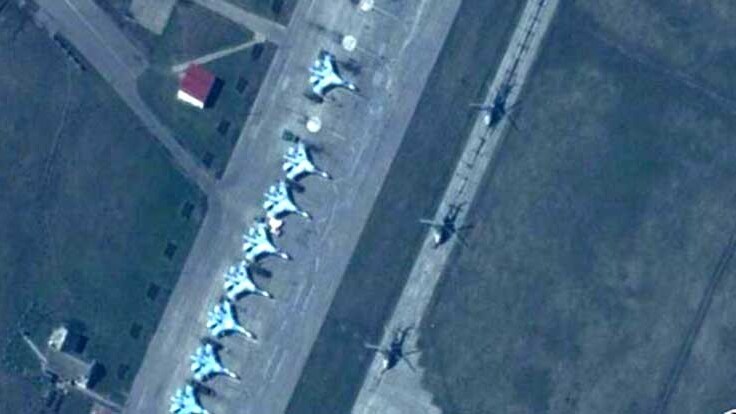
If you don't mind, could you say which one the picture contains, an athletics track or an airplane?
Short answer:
airplane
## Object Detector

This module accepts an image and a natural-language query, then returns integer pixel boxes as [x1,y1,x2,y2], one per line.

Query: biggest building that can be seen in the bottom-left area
[42,350,96,387]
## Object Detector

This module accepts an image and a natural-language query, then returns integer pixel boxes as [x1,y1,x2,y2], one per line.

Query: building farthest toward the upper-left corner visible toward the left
[180,67,217,103]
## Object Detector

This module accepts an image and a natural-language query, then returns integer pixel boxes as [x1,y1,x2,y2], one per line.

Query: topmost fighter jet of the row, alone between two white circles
[308,60,359,93]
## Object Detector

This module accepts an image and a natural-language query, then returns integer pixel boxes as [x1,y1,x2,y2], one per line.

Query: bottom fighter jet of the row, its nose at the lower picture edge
[165,385,216,414]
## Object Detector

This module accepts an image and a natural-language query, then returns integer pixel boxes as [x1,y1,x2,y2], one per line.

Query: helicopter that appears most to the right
[470,85,508,126]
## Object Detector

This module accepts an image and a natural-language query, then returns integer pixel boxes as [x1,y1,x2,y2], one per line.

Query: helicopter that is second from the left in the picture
[420,202,461,244]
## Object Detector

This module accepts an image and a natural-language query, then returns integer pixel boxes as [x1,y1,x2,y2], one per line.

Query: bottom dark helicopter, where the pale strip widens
[367,326,408,370]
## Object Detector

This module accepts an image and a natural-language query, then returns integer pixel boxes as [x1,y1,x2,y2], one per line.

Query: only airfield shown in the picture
[24,0,559,414]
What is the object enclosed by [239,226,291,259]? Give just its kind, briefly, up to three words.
airplane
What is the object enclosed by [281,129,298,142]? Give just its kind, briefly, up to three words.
vehicle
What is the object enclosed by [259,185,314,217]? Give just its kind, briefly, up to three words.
airplane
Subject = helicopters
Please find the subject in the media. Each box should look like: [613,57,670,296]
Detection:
[420,202,461,244]
[367,326,408,370]
[470,85,508,126]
